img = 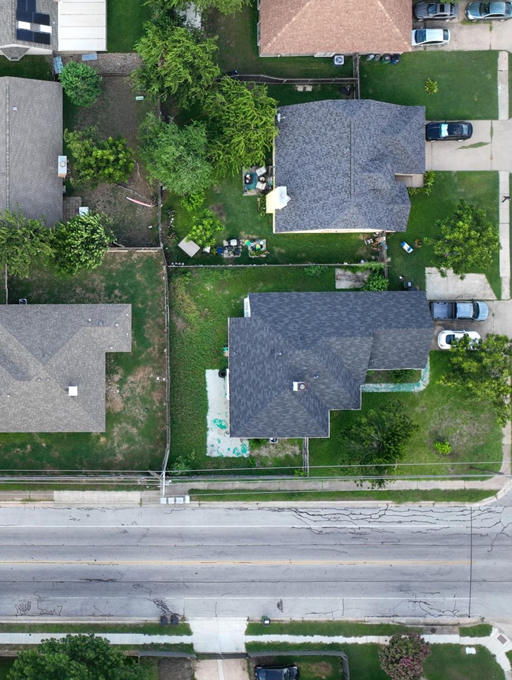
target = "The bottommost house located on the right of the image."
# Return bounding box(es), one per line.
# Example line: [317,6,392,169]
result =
[225,291,434,438]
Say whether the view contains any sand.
No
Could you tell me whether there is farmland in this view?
No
